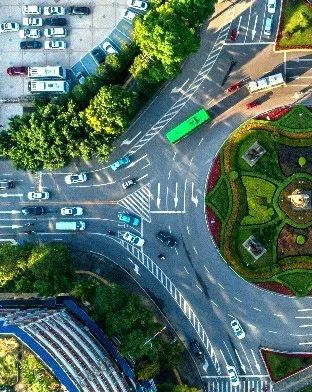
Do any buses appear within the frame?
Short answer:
Yes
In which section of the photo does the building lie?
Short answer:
bottom left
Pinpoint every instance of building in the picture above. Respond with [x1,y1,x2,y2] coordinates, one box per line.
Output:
[0,292,143,392]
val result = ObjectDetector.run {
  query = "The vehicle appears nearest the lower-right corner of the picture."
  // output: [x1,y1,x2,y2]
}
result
[225,364,241,388]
